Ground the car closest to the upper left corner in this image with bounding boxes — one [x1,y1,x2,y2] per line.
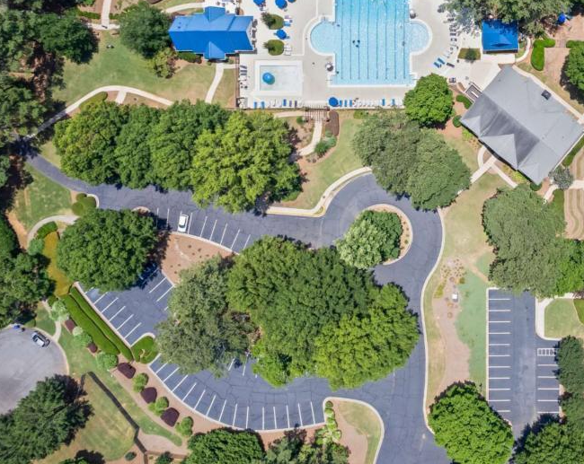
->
[176,213,188,233]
